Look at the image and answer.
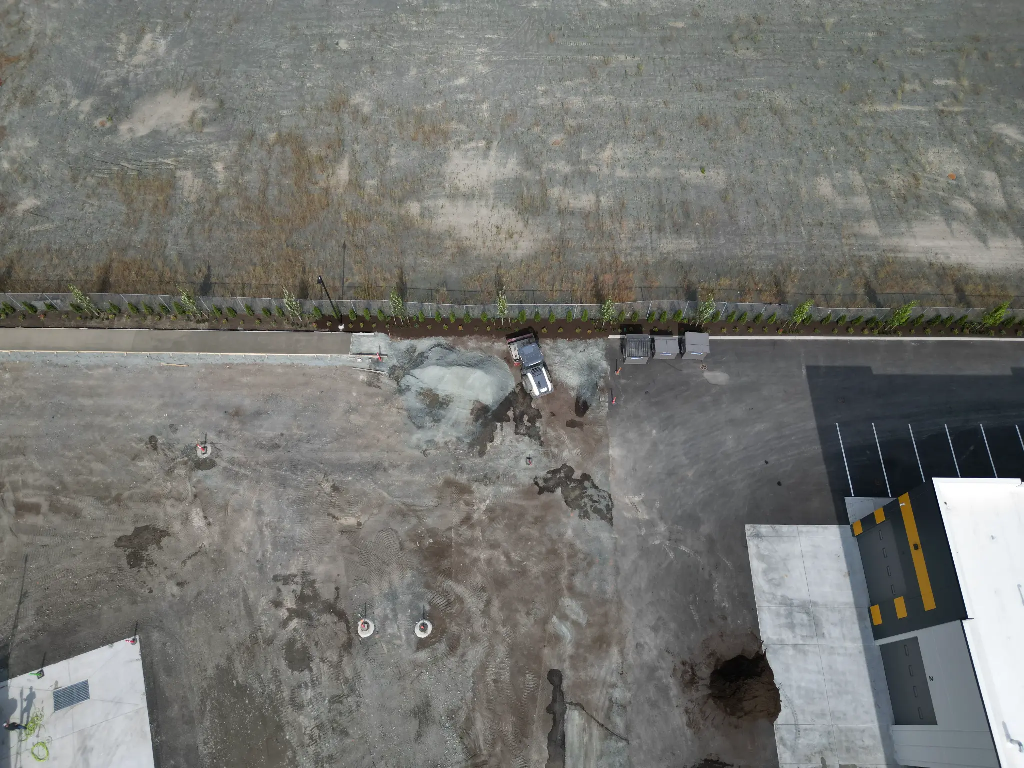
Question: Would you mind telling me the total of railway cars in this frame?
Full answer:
The count of railway cars is 0.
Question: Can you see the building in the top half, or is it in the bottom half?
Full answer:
It is in the bottom half that the building appears.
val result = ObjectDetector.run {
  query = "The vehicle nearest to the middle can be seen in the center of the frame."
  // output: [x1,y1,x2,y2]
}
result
[507,332,556,403]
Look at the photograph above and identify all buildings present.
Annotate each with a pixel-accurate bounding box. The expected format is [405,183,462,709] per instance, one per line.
[851,477,1024,768]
